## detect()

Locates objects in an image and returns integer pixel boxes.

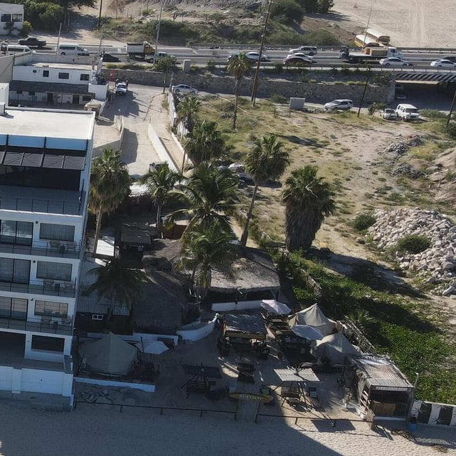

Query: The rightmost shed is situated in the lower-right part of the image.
[347,359,414,415]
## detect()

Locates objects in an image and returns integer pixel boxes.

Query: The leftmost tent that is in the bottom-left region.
[72,321,149,382]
